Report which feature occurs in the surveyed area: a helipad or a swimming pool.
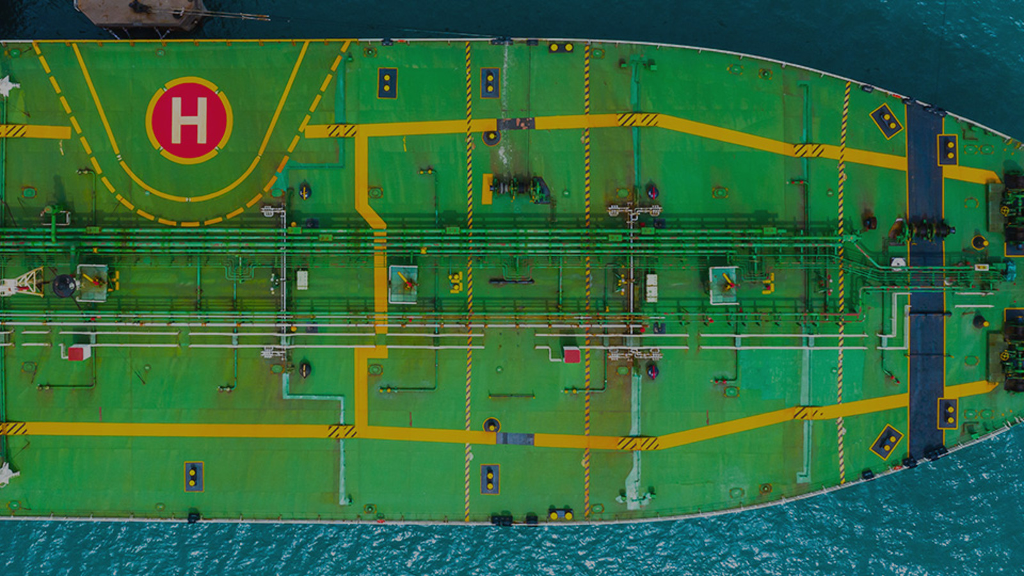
helipad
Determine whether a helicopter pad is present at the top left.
Yes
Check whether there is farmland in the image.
No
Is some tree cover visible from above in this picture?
No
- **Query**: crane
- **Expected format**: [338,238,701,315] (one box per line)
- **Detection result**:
[0,266,50,297]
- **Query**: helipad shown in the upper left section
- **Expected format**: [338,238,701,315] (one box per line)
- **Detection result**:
[32,43,348,227]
